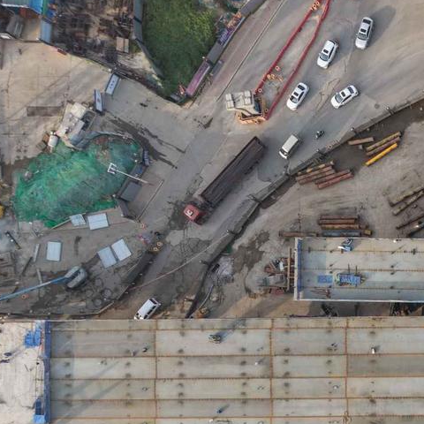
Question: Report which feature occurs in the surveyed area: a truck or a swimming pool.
truck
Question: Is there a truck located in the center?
Yes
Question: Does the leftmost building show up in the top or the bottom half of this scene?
top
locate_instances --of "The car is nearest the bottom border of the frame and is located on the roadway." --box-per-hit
[135,294,162,319]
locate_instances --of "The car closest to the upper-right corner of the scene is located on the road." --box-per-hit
[356,17,374,50]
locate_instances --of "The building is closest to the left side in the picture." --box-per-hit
[0,11,28,41]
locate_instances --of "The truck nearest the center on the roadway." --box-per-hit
[189,134,269,216]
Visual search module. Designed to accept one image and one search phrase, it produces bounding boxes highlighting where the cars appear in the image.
[135,294,162,319]
[356,17,374,50]
[317,36,339,70]
[330,83,360,109]
[277,130,303,161]
[285,80,310,112]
